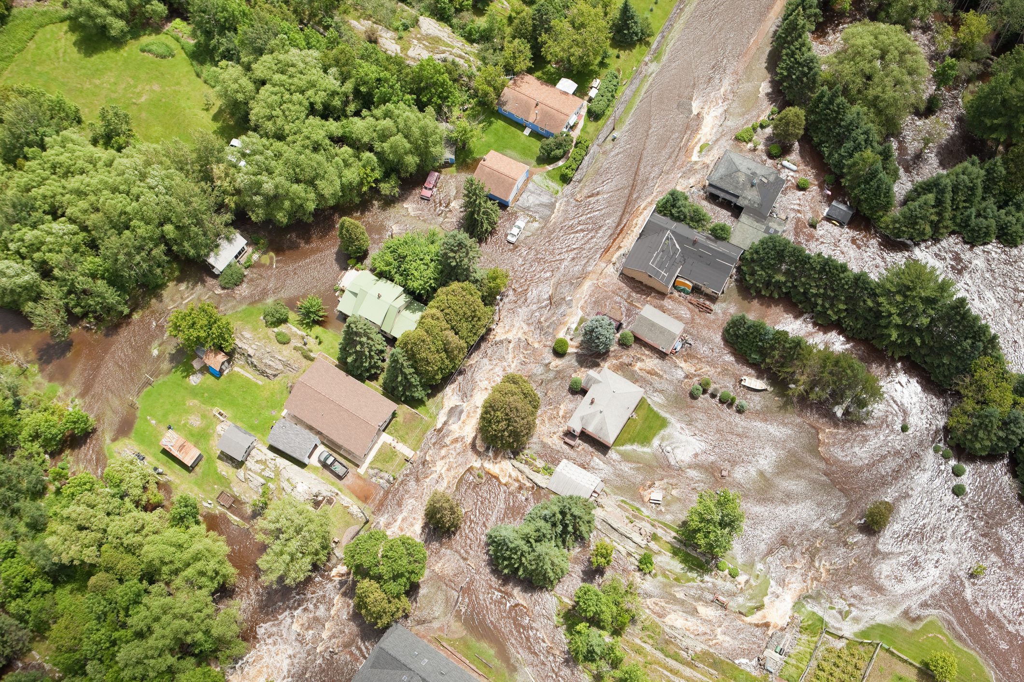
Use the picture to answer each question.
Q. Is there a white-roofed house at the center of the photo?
Yes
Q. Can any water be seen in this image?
Yes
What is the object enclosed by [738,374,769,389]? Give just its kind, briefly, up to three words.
boat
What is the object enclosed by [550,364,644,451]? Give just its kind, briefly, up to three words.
house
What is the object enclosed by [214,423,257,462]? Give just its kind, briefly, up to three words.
shed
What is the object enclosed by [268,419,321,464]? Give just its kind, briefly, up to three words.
building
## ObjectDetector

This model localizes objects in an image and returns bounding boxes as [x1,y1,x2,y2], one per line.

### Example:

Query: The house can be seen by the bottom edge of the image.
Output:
[354,626,480,682]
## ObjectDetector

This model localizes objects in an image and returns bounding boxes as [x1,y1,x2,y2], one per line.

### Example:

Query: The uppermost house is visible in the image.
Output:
[500,72,583,135]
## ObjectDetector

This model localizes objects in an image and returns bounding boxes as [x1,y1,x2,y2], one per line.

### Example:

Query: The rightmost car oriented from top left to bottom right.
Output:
[595,311,627,335]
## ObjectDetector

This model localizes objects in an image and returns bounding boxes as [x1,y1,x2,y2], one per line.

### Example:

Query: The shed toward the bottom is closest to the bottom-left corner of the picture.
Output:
[159,430,205,469]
